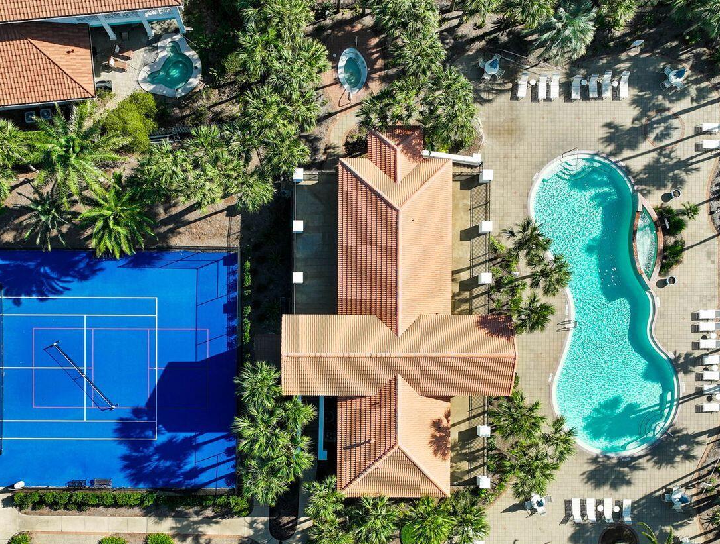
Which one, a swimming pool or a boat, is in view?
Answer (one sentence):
There is a swimming pool in the scene.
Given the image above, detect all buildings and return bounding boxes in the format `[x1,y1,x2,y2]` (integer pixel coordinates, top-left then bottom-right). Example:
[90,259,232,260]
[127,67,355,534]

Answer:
[0,0,189,111]
[281,124,524,500]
